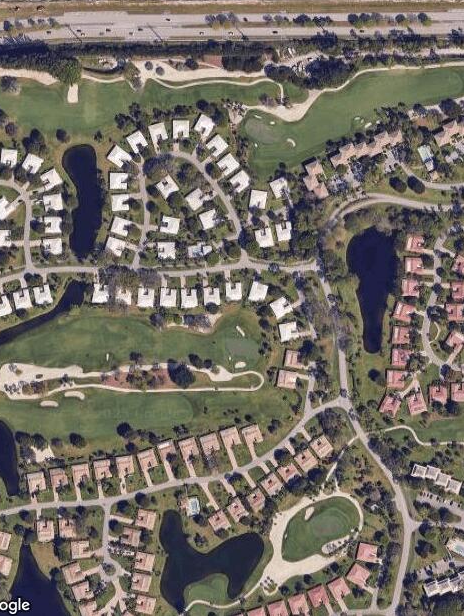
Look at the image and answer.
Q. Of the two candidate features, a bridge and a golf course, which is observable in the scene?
golf course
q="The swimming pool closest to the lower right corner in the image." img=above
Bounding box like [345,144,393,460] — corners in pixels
[447,537,464,556]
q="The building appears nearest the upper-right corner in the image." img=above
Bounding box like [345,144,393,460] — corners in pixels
[433,118,464,148]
